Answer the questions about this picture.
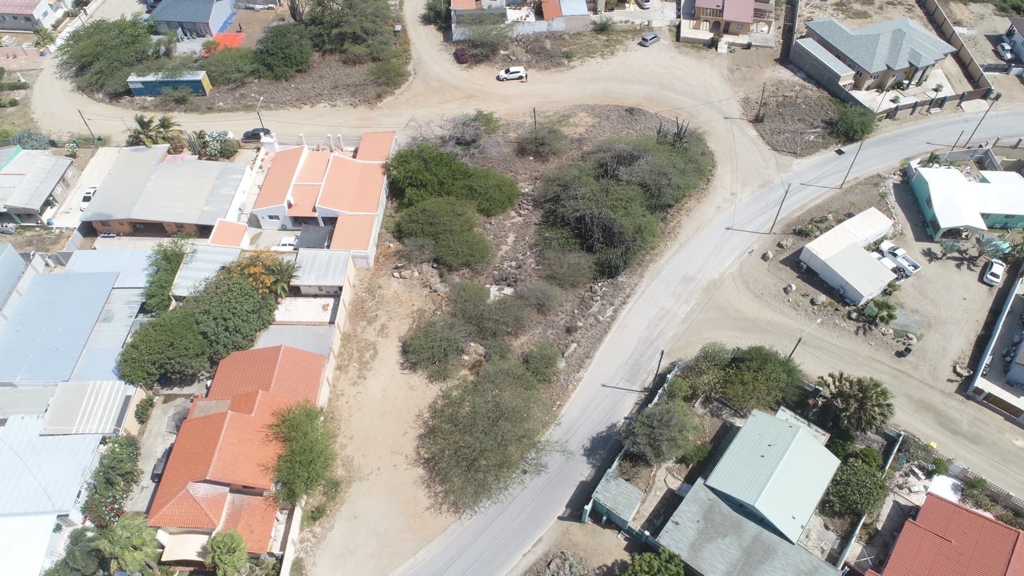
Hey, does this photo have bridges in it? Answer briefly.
No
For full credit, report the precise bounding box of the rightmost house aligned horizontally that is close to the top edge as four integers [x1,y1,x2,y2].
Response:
[806,17,956,91]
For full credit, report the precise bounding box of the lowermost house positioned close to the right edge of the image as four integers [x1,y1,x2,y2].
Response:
[880,492,1024,576]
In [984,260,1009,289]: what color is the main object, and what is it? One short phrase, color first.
white car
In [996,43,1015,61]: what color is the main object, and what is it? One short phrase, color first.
gray car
